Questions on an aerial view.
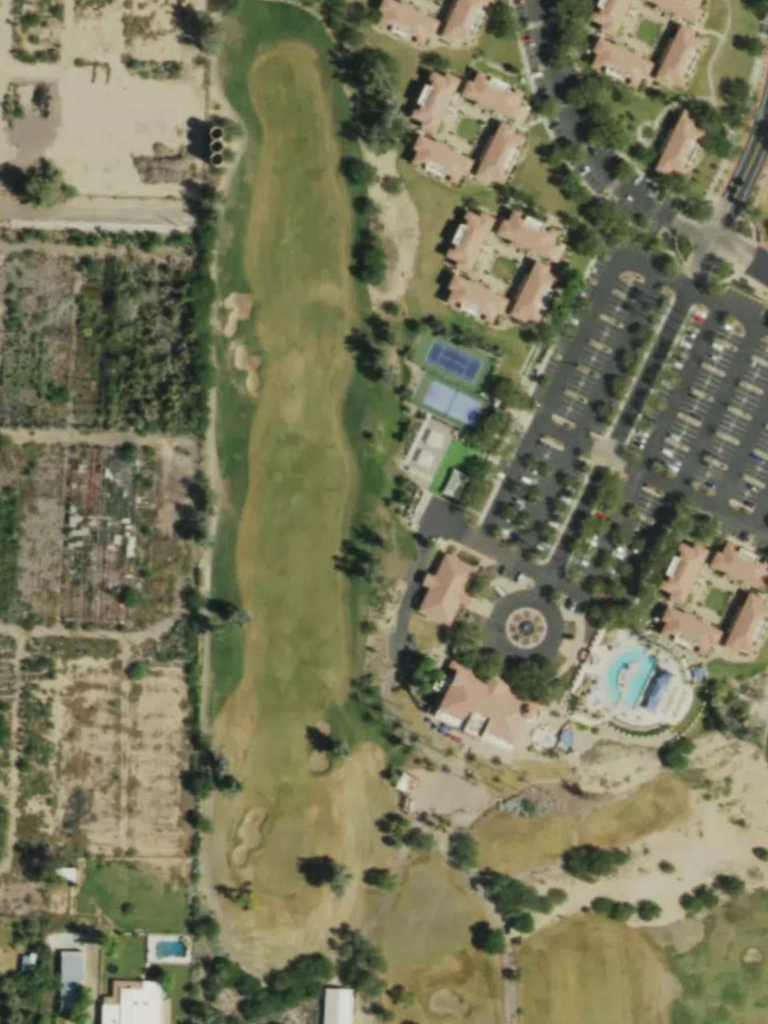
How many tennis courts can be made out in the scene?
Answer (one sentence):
The picture shows 2 tennis courts.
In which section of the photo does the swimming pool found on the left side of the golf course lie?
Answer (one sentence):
The swimming pool found on the left side of the golf course is located in the bottom left region of the scene.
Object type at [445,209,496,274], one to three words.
building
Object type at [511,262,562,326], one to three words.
building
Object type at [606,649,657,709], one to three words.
swimming pool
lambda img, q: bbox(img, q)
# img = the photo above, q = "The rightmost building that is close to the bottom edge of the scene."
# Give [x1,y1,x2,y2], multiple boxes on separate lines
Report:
[324,990,354,1024]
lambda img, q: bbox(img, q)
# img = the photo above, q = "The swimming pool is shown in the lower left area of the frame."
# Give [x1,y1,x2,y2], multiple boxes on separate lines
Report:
[148,934,191,964]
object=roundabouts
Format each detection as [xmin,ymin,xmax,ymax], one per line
[506,608,547,649]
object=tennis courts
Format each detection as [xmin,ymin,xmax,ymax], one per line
[411,363,483,429]
[415,332,496,386]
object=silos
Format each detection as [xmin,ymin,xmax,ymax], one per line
[210,151,224,166]
[209,124,224,138]
[210,138,224,152]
